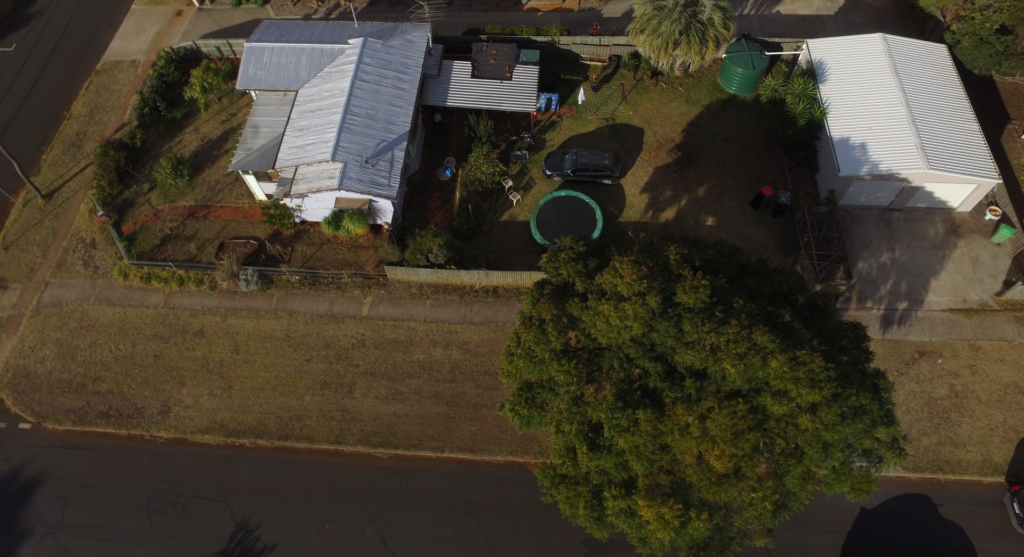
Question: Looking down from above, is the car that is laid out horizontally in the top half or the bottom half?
top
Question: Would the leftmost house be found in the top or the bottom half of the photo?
top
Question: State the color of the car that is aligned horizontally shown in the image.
black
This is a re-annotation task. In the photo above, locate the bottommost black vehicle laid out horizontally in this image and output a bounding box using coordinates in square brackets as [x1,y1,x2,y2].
[542,147,624,189]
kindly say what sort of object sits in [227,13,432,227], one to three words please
house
